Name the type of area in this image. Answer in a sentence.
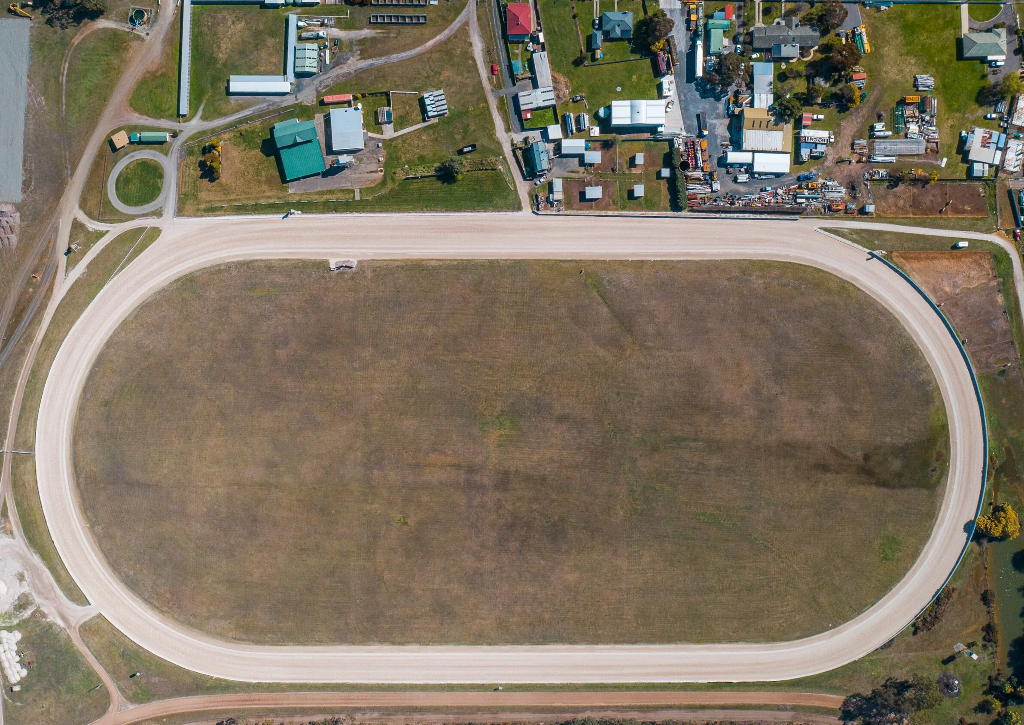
It's a sports ground.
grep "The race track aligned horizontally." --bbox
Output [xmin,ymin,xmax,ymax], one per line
[35,216,988,683]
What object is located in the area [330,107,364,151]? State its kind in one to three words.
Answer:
building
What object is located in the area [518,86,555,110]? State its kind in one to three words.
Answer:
building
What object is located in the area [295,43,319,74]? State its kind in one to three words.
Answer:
shed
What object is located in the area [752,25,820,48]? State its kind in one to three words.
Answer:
house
